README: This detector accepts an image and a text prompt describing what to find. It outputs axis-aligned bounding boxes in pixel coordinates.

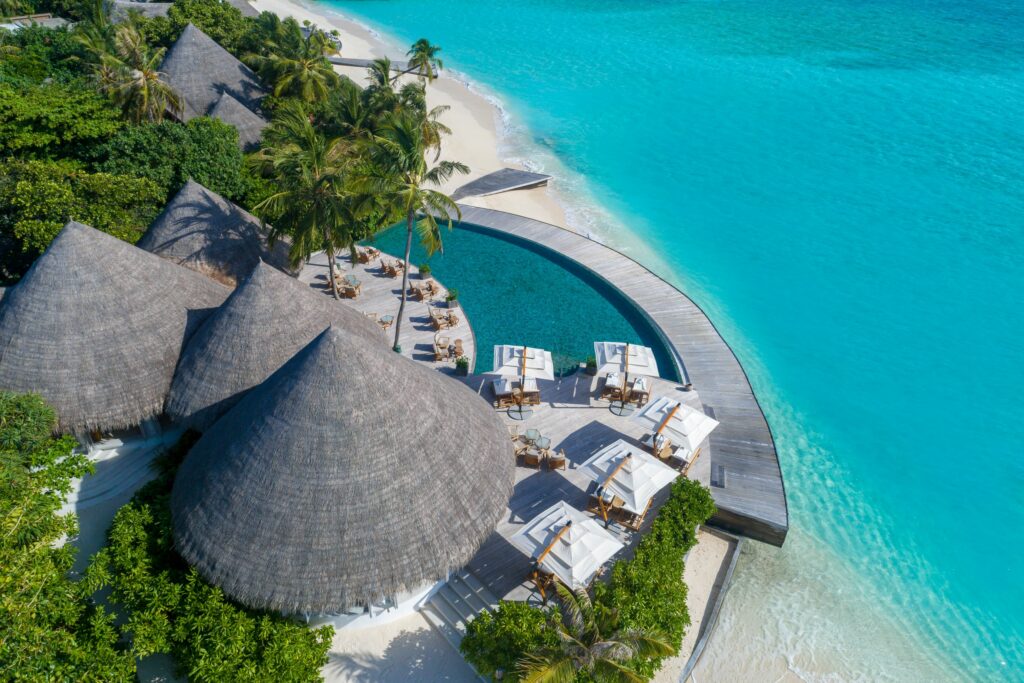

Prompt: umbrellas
[512,499,621,616]
[594,343,659,421]
[579,437,680,539]
[487,346,556,424]
[636,394,719,470]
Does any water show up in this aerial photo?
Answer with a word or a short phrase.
Yes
